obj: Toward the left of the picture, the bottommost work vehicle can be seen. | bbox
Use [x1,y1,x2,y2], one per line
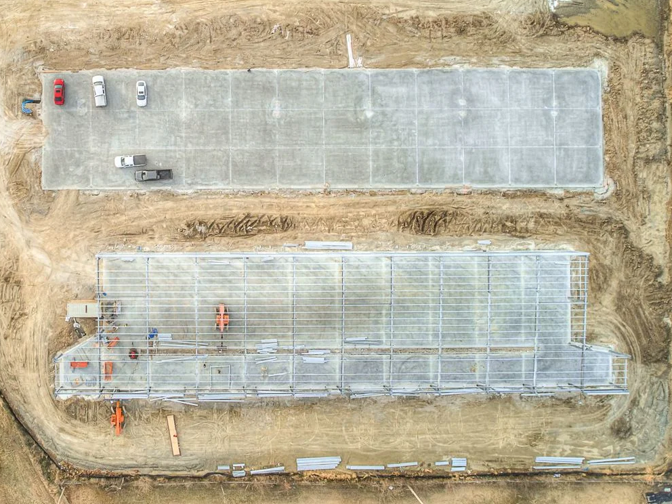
[109,397,126,439]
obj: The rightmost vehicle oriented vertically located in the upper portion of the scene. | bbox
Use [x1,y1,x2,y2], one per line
[134,79,148,107]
